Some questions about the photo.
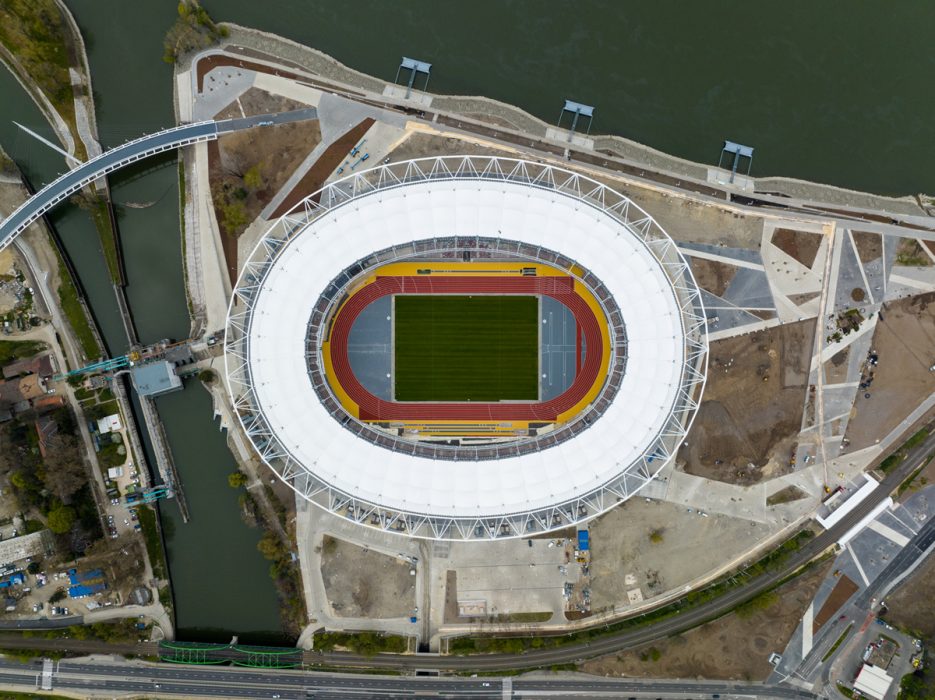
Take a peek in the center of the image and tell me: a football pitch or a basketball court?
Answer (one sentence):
The one visible in the center of the image is a football pitch.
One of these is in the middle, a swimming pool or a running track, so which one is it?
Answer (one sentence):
The one visible in the middle is a running track.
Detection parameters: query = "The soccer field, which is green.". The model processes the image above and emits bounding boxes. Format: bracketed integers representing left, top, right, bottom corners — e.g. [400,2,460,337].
[392,294,542,404]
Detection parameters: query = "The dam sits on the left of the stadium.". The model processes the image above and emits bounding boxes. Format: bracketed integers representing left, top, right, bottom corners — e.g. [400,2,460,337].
[164,347,196,367]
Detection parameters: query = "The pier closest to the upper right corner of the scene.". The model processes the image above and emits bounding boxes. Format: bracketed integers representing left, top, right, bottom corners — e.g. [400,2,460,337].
[719,141,754,179]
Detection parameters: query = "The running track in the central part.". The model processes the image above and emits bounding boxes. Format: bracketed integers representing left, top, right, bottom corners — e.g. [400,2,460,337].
[320,256,614,445]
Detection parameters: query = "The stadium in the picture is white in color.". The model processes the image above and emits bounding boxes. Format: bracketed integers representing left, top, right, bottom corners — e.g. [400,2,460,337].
[225,155,709,540]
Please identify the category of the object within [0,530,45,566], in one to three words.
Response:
shed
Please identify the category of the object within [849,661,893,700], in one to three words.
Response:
building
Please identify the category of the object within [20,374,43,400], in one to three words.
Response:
house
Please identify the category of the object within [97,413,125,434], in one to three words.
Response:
building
